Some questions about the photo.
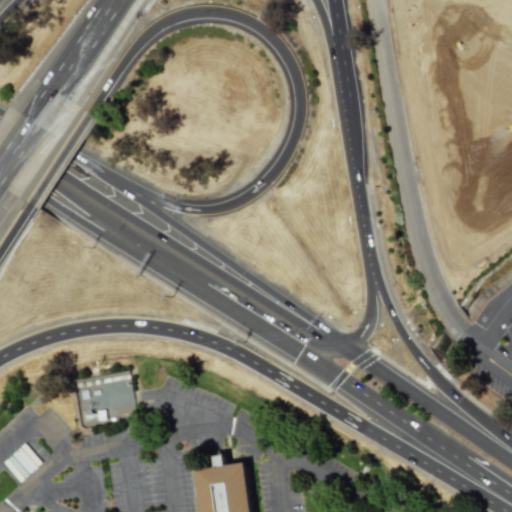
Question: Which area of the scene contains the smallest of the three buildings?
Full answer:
The smallest of the three buildings sits in the bottom left section of the image.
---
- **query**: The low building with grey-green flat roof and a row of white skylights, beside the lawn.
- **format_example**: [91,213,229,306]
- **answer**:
[78,372,136,428]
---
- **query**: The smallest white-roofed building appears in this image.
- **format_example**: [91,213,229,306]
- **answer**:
[4,444,44,483]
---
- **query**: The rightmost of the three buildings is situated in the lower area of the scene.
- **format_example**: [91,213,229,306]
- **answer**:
[193,455,248,512]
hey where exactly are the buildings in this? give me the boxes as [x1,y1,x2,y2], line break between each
[4,444,44,483]
[193,455,248,512]
[78,372,136,428]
